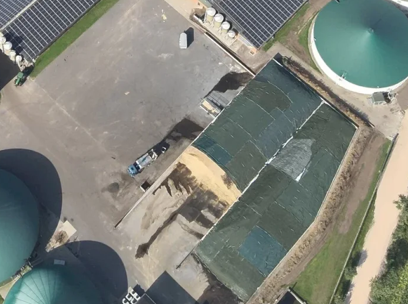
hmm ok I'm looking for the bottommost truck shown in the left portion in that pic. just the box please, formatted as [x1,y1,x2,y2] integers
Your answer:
[126,145,168,180]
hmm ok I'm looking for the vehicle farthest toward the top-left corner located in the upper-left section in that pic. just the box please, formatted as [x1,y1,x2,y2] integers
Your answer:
[11,69,25,91]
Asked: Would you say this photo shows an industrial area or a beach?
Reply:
industrial area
